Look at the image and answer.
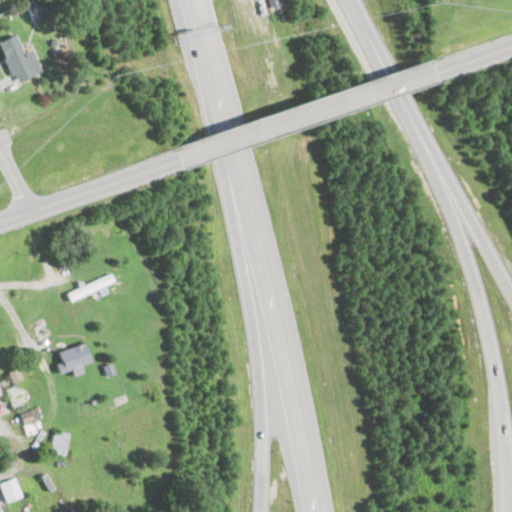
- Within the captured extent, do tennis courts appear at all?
No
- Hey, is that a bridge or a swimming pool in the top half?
bridge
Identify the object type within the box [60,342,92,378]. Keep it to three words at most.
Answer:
house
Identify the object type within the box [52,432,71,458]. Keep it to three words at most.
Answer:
building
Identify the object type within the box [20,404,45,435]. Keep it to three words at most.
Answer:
house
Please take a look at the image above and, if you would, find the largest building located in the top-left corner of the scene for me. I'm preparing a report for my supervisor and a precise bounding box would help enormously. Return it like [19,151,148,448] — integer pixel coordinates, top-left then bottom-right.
[0,36,46,84]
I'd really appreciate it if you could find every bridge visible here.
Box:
[170,58,448,176]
